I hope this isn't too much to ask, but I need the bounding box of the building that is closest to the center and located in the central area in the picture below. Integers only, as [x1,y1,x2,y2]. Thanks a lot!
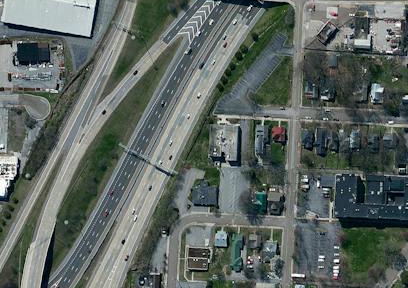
[210,124,240,165]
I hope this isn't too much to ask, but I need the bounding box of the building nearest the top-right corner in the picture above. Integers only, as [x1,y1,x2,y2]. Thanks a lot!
[373,2,406,20]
